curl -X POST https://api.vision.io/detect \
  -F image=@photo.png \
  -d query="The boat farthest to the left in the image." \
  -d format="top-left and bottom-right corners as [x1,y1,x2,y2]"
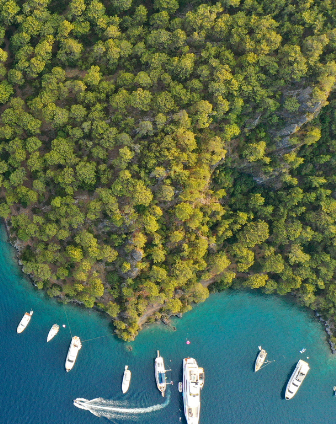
[18,311,32,332]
